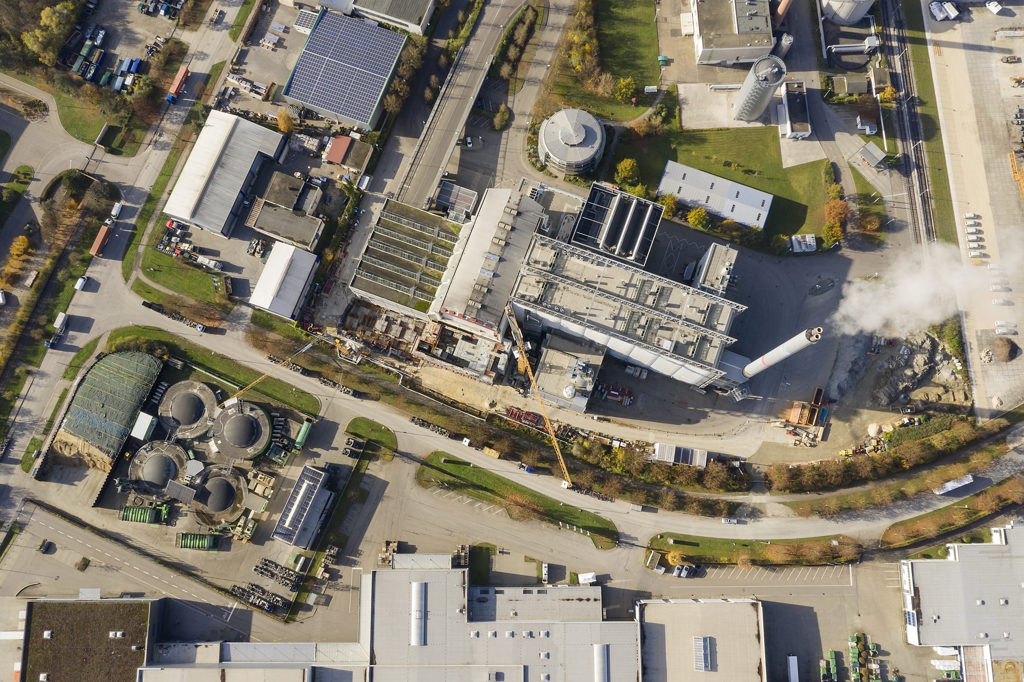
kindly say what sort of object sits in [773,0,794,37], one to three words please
chimney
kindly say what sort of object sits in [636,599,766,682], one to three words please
building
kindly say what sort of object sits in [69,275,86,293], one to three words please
vehicle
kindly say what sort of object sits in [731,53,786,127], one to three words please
silo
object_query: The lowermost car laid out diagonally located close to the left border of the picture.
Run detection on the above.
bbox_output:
[39,540,51,556]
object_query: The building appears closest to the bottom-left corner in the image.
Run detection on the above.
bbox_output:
[5,589,166,682]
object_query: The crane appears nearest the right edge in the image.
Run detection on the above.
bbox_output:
[503,304,573,487]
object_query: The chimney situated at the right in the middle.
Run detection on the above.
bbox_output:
[749,329,814,379]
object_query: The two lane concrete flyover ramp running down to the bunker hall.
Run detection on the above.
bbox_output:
[394,0,524,203]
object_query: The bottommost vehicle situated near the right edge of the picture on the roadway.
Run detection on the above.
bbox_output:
[933,475,978,498]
